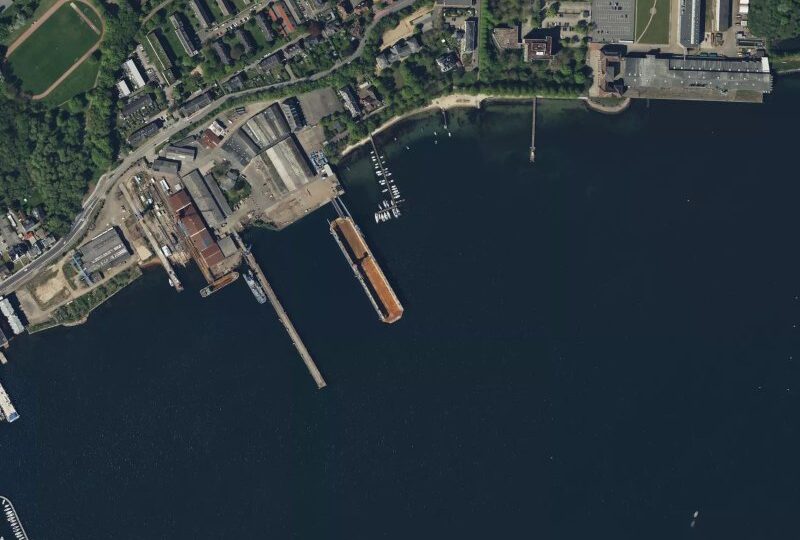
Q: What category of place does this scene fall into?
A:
port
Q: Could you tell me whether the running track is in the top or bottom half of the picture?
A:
top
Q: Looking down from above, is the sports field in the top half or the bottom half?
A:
top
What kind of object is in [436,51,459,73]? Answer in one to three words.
house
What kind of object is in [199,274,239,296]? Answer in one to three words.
ship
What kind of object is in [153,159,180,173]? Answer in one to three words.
building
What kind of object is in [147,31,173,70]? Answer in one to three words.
building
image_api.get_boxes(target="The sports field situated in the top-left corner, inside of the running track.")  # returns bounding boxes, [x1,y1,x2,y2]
[5,1,102,95]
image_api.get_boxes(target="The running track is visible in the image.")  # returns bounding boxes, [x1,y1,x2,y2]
[1,0,105,99]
